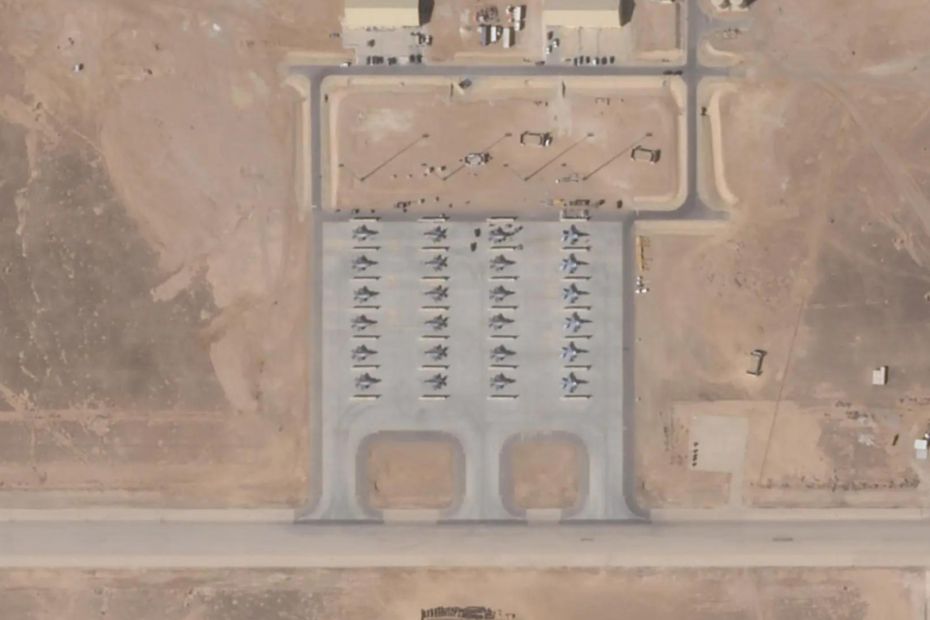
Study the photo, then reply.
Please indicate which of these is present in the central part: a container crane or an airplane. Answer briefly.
airplane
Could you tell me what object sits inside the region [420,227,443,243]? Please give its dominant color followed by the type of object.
gray airplane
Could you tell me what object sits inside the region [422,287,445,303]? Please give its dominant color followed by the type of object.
gray airplane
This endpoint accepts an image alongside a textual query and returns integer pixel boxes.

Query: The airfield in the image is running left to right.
[0,221,930,567]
